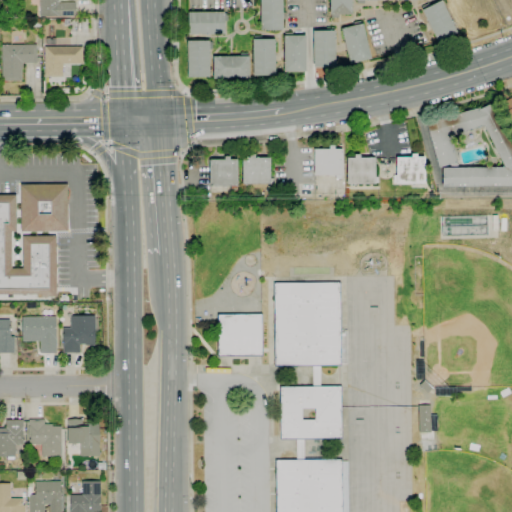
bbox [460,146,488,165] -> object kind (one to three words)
swimming pool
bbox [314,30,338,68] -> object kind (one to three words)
building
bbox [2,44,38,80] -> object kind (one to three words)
house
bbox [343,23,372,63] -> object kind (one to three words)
building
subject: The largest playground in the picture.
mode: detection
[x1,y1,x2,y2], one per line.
[194,249,262,318]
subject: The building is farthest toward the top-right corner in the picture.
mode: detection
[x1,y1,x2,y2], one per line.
[424,0,458,38]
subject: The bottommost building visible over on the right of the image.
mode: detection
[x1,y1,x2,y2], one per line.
[276,460,343,512]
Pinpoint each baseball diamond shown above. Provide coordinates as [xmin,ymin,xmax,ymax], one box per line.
[424,245,512,386]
